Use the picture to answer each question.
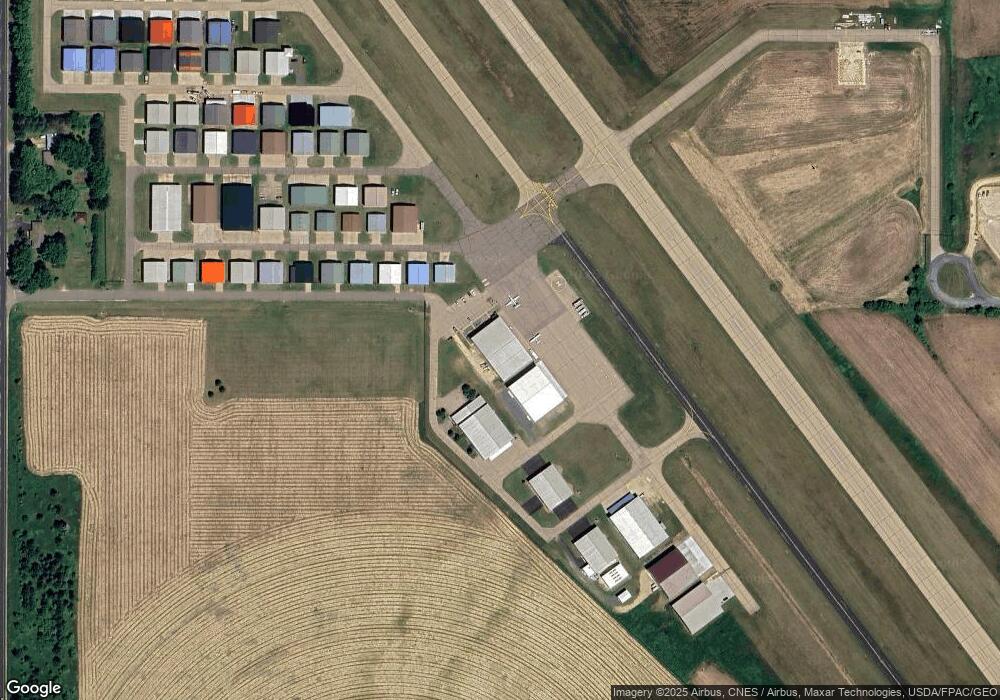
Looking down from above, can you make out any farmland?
Yes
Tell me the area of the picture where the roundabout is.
right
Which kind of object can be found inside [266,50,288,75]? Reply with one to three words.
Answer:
hangar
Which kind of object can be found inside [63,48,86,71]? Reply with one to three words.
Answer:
hangar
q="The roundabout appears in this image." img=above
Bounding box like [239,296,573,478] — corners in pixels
[928,253,1000,307]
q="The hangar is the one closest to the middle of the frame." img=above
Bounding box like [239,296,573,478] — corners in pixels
[472,316,533,383]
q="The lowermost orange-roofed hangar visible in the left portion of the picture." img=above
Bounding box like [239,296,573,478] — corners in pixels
[201,262,224,282]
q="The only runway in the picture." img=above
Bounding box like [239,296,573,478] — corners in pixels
[479,0,1000,693]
